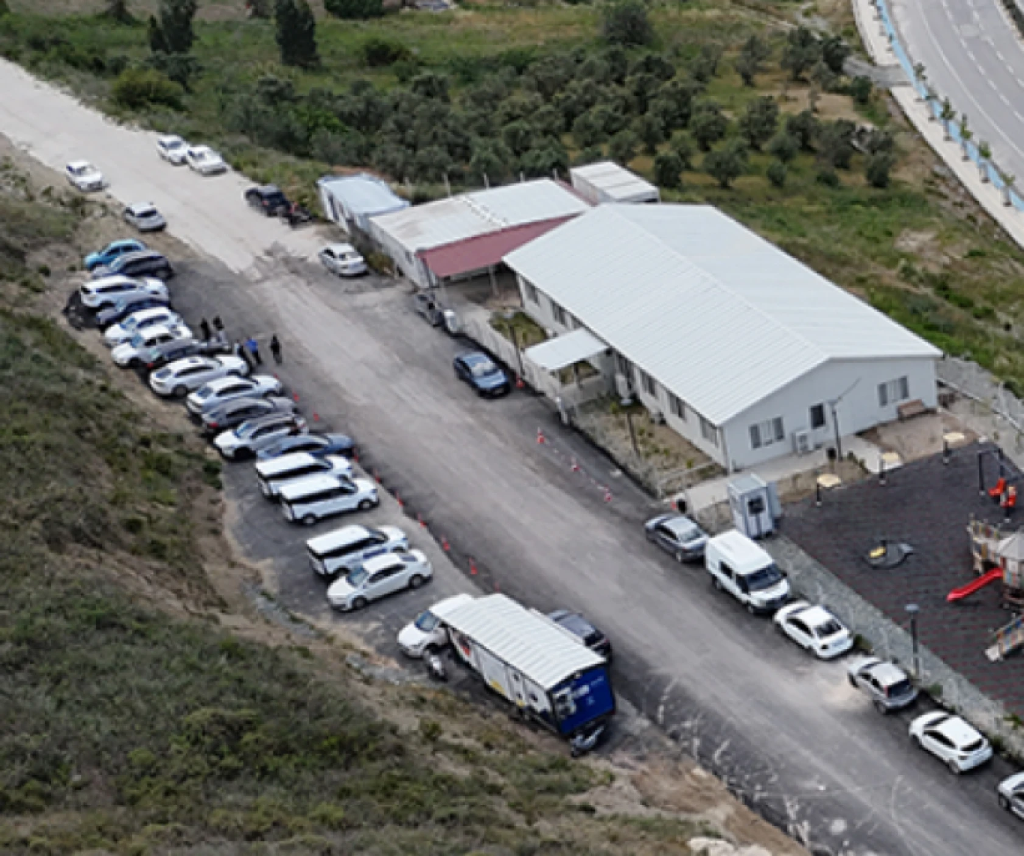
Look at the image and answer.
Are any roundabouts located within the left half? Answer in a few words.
No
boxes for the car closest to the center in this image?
[448,357,516,403]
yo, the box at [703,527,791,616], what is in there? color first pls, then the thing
white van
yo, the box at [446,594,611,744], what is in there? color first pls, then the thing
white trailer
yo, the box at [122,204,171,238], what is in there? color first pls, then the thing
gray car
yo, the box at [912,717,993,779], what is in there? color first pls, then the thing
white car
